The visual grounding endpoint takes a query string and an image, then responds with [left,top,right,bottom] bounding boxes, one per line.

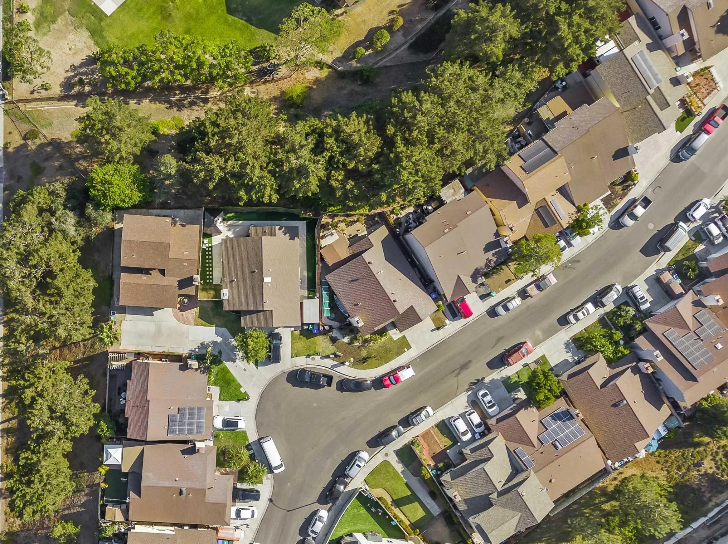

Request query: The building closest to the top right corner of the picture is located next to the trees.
[627,0,728,63]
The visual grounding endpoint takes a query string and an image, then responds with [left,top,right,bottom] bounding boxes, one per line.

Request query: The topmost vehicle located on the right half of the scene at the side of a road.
[695,105,728,135]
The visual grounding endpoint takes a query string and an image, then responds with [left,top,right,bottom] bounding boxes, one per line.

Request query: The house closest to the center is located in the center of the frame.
[325,225,438,335]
